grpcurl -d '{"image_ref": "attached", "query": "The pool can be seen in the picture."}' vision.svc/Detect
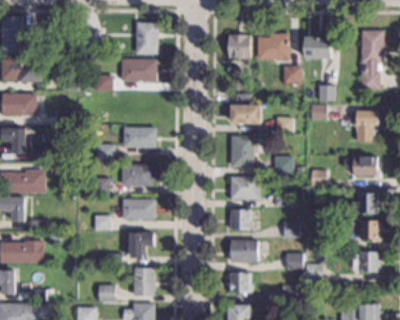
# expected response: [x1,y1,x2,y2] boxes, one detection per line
[31,272,45,286]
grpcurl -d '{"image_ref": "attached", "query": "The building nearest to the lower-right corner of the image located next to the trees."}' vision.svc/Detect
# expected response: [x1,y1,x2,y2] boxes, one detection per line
[359,304,382,320]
